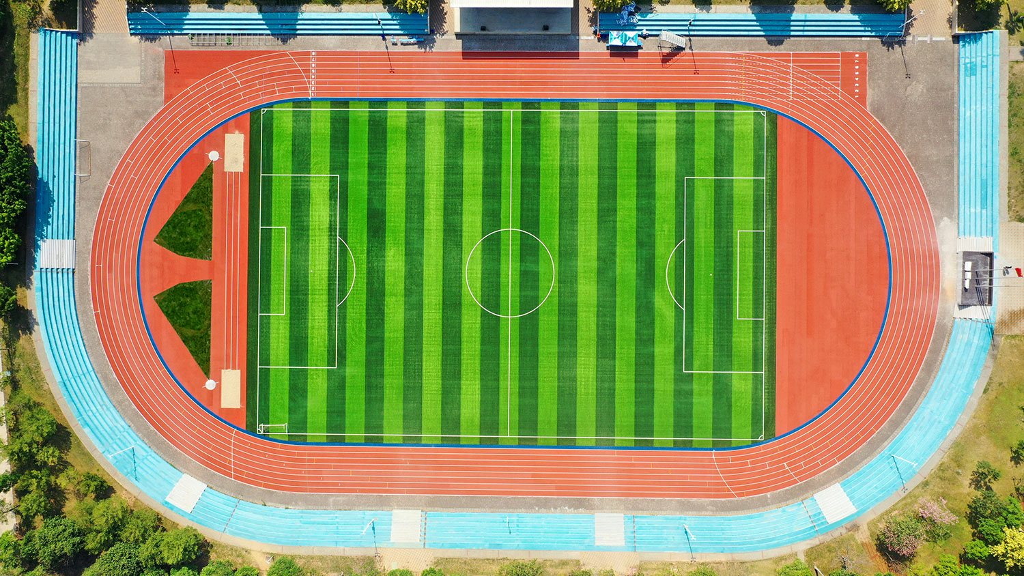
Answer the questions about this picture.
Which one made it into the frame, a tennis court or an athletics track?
athletics track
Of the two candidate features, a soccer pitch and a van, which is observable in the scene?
soccer pitch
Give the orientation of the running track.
horizontally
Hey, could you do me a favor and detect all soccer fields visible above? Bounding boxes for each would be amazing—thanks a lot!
[246,101,777,447]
